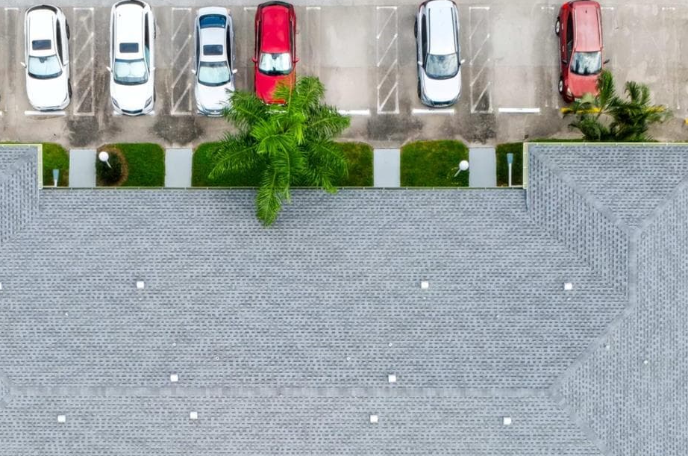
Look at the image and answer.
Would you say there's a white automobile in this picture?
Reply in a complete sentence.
Yes, there is a white automobile in the image.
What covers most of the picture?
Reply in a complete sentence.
The bulk of the photo consists of buildings.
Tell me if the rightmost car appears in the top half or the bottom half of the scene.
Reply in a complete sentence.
The top half of the photo is where the rightmost car is.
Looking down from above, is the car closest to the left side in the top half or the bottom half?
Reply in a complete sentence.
It is in the top half that the car closest to the left side appears.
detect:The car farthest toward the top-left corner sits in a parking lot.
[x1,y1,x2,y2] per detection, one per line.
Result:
[19,7,71,114]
